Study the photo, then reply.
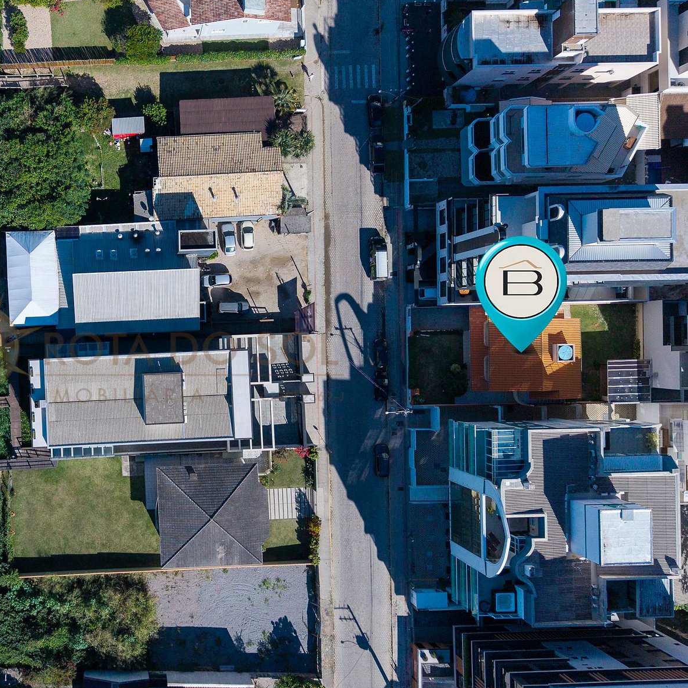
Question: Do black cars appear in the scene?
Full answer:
Yes, a black car appears in the view.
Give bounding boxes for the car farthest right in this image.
[412,285,435,301]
